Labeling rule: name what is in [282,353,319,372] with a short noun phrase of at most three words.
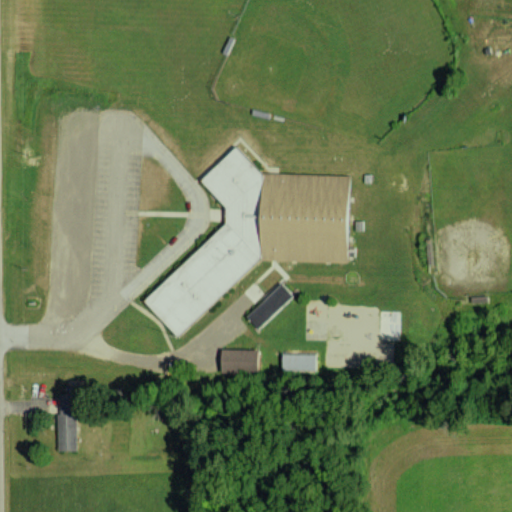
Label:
shed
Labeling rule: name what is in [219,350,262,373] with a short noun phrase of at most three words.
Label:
shed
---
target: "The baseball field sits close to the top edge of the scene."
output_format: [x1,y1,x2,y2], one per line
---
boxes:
[214,0,452,139]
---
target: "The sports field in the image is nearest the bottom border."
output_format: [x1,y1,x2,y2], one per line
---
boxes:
[374,425,512,512]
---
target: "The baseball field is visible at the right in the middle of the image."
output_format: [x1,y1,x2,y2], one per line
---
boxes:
[428,144,512,298]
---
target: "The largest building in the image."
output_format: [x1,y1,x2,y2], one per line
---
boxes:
[146,147,351,338]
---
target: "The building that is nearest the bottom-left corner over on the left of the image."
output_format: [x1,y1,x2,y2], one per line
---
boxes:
[58,413,78,452]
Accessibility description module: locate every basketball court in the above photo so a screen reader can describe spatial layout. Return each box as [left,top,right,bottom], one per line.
[380,311,402,363]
